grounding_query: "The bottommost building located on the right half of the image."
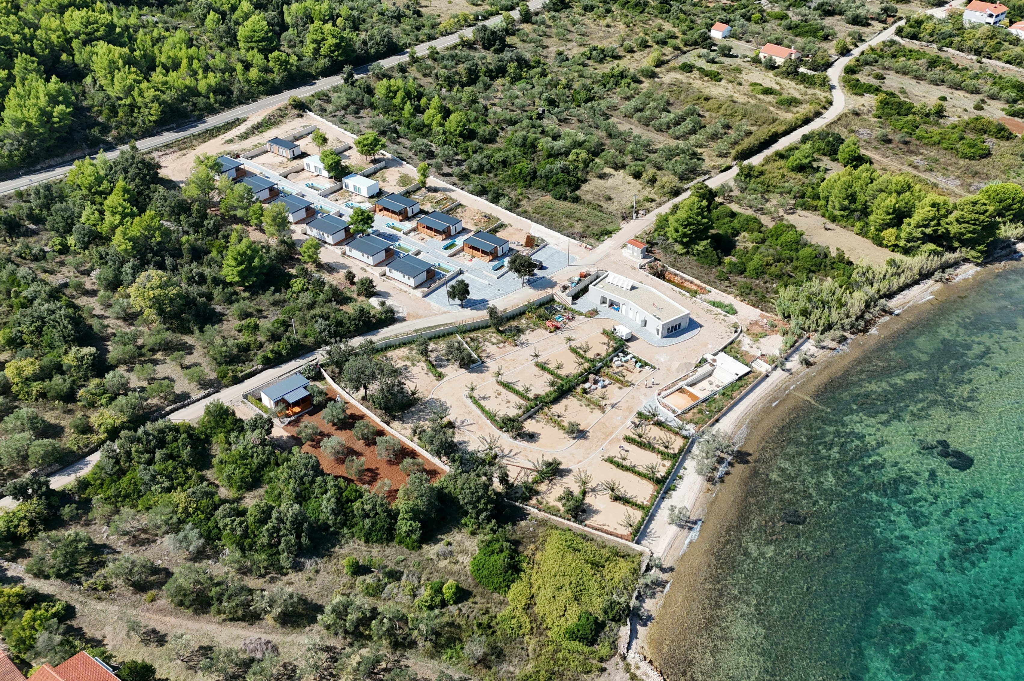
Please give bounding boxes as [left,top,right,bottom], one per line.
[589,271,690,339]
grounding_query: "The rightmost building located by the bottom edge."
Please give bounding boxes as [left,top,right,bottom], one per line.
[59,649,128,681]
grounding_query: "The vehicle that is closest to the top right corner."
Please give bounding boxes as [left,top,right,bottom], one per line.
[609,319,633,339]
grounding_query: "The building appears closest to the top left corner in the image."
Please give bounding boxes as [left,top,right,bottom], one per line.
[209,156,245,181]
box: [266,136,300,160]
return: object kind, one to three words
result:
building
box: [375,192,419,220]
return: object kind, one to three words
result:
building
